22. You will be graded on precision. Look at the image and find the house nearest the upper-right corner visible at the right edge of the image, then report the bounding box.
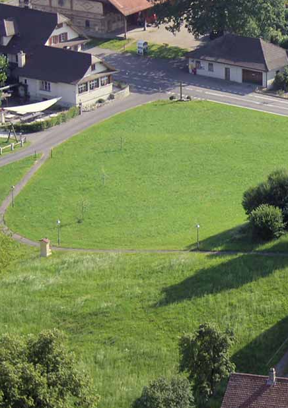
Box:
[184,31,288,87]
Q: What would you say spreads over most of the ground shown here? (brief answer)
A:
grass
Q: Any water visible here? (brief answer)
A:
No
